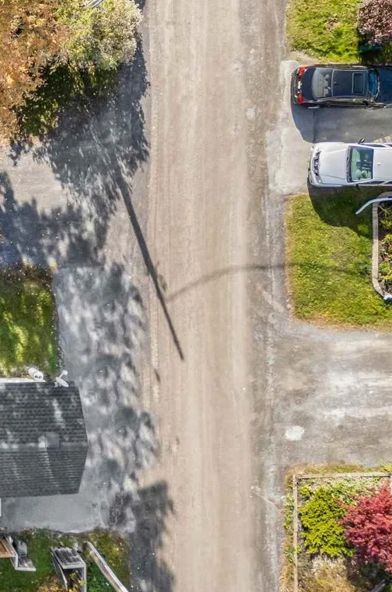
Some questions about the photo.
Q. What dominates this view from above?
paved ground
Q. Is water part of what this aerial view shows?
No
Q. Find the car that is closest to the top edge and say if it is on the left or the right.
right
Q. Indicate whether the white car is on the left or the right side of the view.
right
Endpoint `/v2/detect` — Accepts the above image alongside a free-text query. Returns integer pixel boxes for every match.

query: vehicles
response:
[289,57,392,115]
[304,134,392,194]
